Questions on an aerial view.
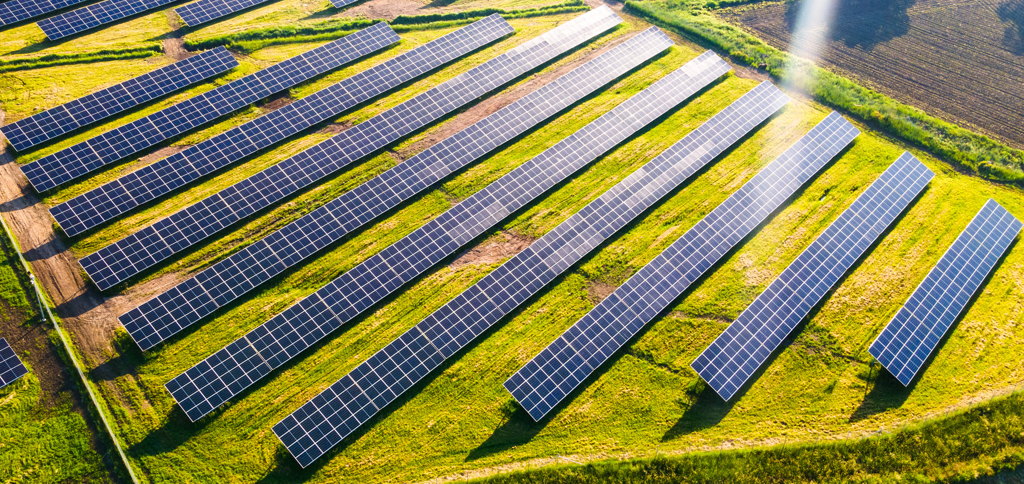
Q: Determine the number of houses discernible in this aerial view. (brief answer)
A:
0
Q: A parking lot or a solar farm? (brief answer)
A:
solar farm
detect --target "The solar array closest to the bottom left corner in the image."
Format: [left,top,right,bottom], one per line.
[0,338,30,396]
